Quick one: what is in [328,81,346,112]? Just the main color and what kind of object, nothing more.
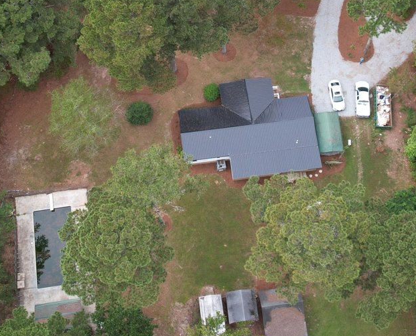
white car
